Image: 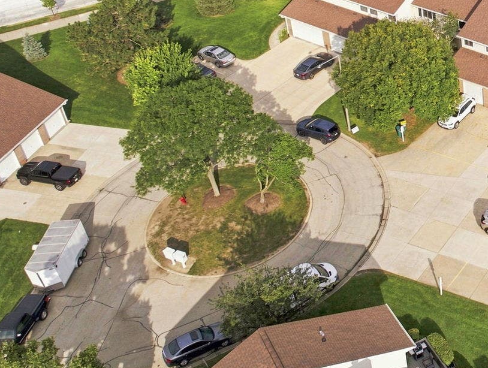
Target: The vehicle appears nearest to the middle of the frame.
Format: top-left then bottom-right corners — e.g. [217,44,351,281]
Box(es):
[292,116,343,144]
